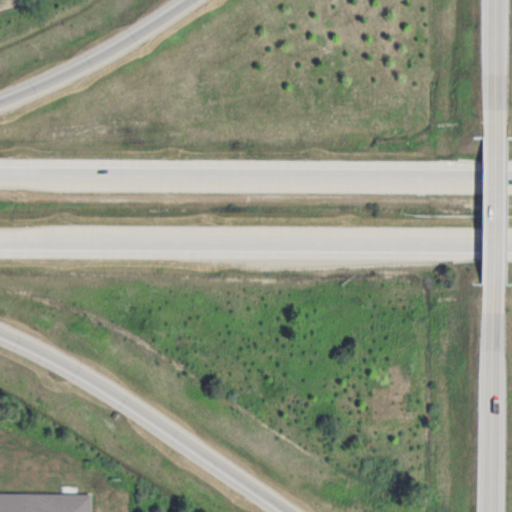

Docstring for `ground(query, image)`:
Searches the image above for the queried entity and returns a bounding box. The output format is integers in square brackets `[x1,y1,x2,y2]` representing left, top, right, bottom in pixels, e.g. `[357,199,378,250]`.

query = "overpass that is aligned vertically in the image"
[473,136,512,286]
